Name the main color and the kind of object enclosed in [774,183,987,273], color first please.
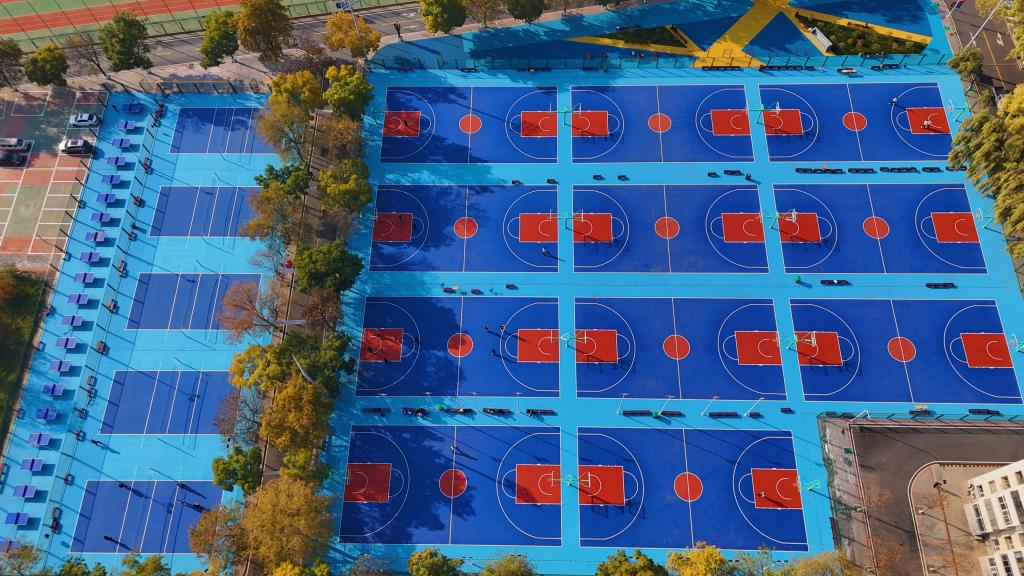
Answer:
blue basketball court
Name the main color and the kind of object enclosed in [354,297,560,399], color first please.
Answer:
blue basketball court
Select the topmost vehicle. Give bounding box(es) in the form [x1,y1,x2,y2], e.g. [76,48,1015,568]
[67,112,97,126]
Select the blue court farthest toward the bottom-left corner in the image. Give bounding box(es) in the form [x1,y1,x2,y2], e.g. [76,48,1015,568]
[69,467,221,569]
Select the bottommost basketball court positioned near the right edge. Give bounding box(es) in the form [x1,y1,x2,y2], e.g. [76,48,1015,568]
[791,298,1022,403]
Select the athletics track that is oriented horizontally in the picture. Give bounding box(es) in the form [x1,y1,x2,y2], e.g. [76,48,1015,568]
[0,0,413,52]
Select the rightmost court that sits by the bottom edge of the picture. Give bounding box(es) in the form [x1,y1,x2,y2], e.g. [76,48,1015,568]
[577,428,808,551]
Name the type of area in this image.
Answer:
sports ground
